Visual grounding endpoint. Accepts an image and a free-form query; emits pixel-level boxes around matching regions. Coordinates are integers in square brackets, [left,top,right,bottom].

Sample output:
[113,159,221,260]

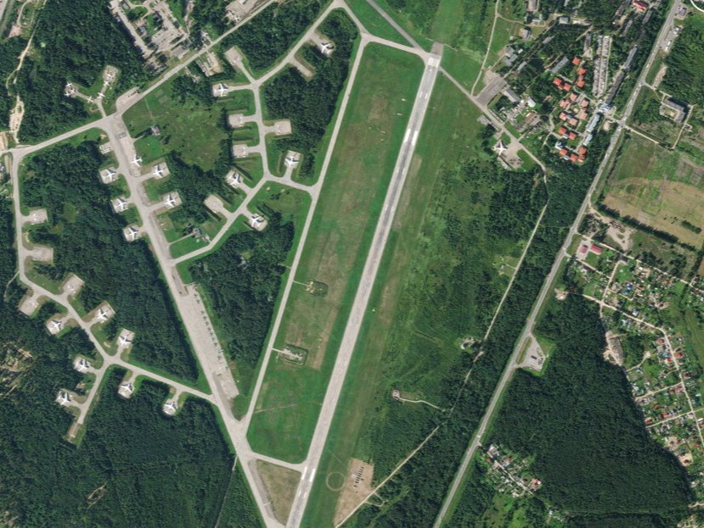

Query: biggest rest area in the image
[513,330,545,371]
